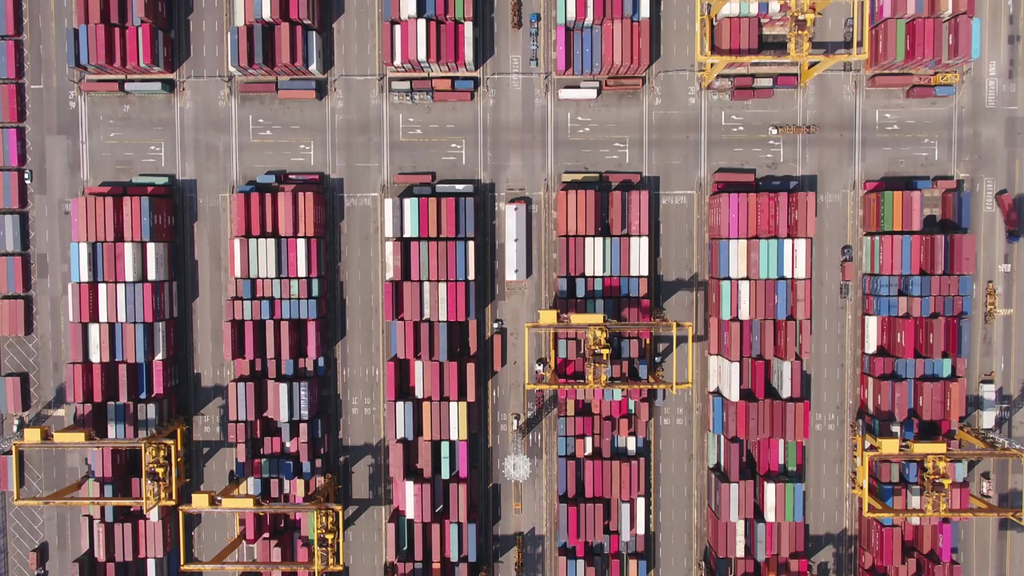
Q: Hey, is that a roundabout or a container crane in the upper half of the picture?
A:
container crane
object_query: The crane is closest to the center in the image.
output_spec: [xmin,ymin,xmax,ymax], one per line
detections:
[525,304,694,389]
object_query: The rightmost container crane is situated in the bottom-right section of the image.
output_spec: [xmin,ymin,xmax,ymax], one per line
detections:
[847,422,1024,521]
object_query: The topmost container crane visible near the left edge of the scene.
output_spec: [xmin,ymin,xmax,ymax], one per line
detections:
[10,408,193,510]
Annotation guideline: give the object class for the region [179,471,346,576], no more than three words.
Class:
container crane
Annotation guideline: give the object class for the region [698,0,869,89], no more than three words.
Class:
container crane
